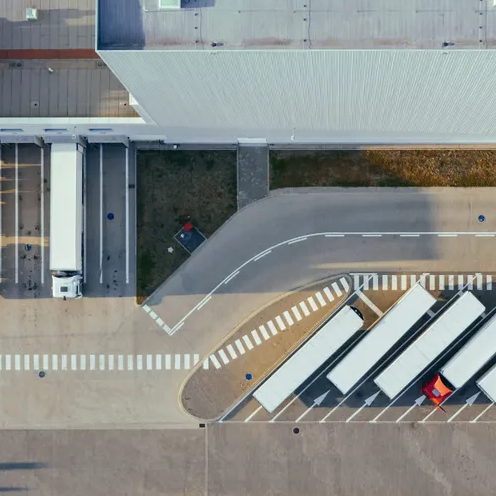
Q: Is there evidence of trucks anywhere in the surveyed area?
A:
Yes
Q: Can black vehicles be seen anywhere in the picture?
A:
No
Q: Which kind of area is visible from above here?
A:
industrial area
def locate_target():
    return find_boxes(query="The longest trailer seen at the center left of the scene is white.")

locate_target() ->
[52,143,83,273]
